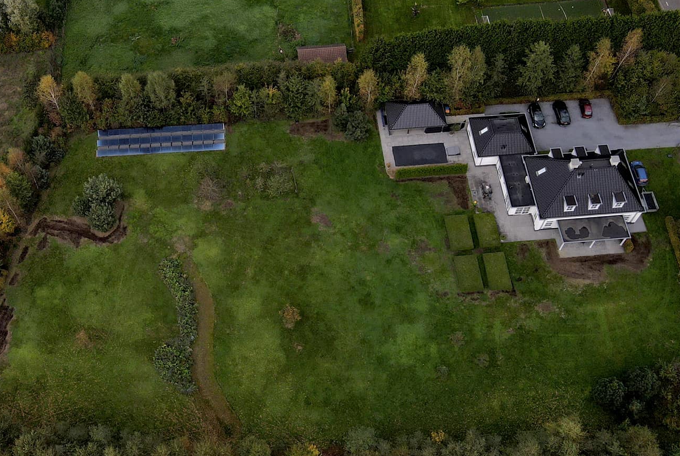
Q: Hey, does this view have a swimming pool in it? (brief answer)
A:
Yes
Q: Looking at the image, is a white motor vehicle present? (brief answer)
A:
No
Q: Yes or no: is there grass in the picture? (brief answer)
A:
Yes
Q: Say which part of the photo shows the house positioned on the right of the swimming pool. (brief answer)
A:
right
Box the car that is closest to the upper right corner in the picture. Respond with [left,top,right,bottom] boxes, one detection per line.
[578,99,595,119]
